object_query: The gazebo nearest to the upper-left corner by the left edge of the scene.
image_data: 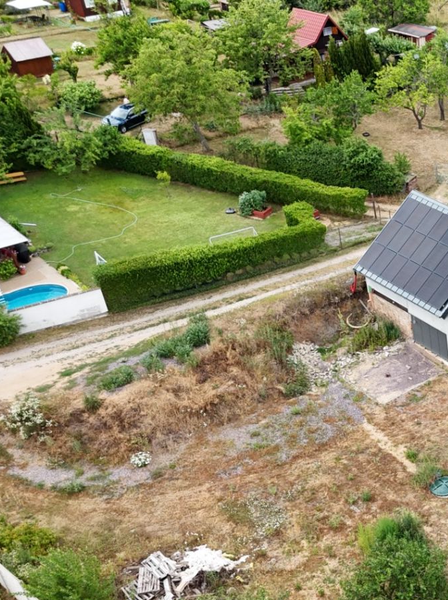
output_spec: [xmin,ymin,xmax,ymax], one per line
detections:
[5,0,54,26]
